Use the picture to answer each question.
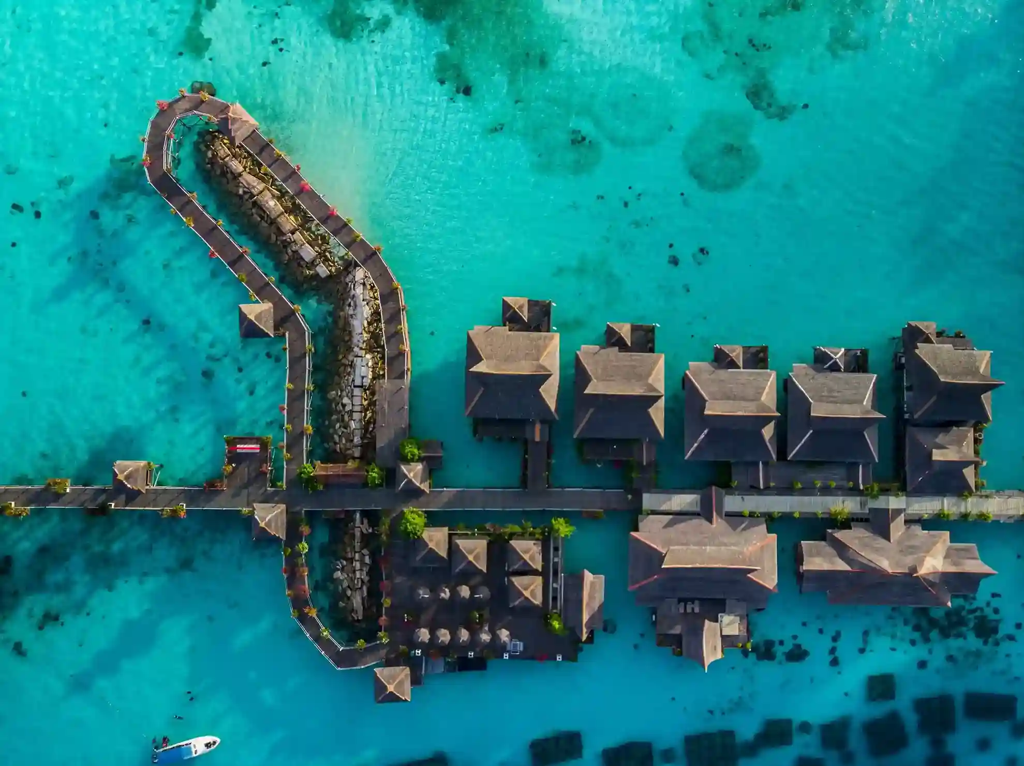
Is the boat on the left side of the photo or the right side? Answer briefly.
left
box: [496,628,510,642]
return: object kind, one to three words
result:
umbrella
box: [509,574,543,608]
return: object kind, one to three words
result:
gazebo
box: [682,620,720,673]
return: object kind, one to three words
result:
building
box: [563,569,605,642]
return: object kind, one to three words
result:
shed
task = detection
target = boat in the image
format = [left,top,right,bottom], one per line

[149,737,220,766]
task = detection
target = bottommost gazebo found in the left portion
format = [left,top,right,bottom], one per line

[373,660,412,704]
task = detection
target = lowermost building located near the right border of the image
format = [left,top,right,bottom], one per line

[795,508,999,608]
